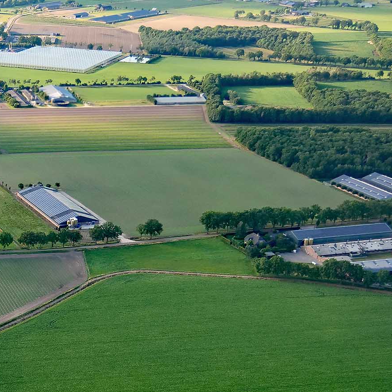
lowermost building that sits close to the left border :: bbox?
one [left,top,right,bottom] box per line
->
[16,185,100,229]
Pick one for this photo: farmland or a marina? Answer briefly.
farmland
